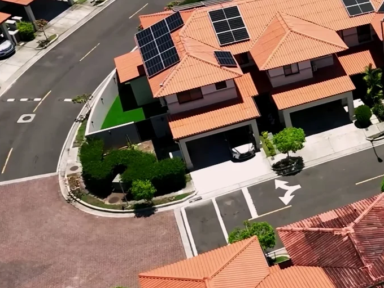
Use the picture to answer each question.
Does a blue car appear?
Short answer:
No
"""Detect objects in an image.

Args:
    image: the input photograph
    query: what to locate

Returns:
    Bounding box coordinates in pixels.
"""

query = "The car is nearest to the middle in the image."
[222,124,261,159]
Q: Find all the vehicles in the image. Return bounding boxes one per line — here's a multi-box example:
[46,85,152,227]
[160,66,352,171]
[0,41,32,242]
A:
[222,124,261,159]
[0,32,24,58]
